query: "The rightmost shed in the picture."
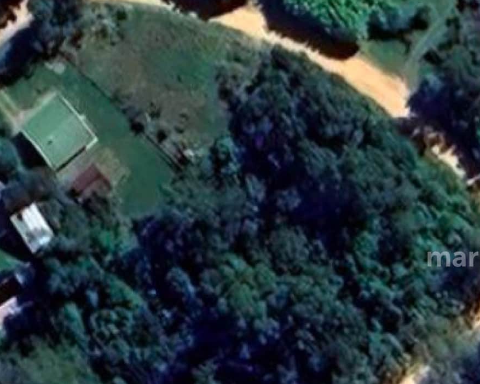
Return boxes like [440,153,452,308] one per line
[73,164,111,201]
